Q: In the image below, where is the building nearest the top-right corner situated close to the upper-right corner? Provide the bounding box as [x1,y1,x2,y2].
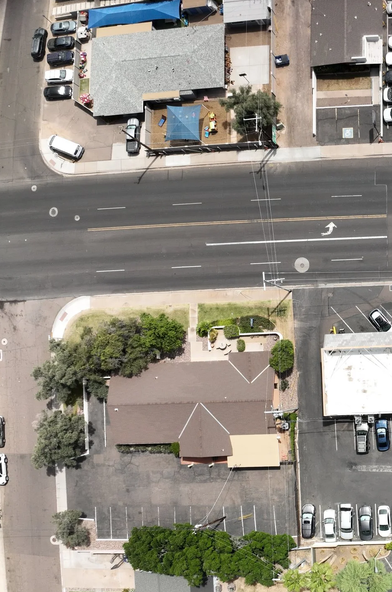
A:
[311,0,386,72]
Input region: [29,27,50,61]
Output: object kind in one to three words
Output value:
car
